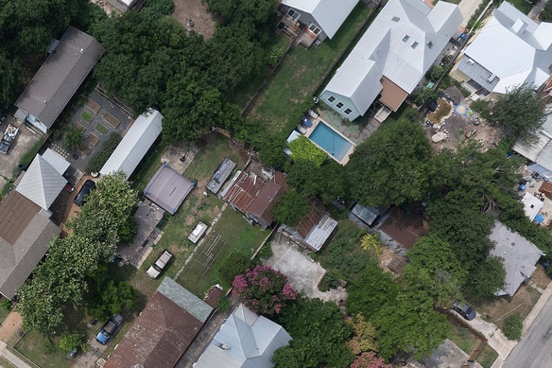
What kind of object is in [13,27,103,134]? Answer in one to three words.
house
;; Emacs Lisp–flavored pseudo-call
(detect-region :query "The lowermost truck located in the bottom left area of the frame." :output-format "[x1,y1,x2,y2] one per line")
[95,310,125,347]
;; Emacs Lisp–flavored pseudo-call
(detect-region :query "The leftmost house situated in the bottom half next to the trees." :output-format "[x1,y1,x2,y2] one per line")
[0,147,70,300]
